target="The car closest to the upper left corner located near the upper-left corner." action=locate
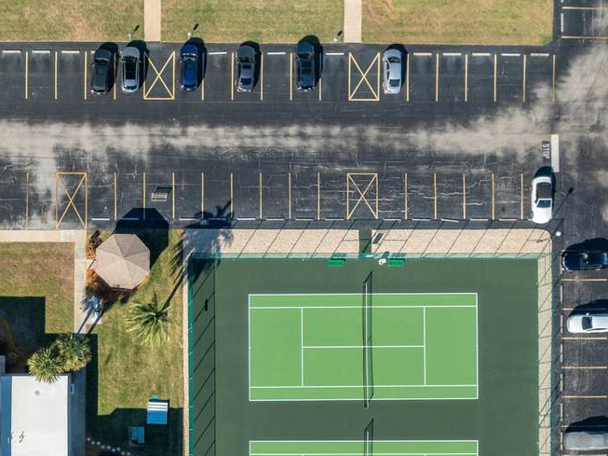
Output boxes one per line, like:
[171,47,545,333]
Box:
[90,49,112,96]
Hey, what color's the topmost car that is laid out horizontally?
black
